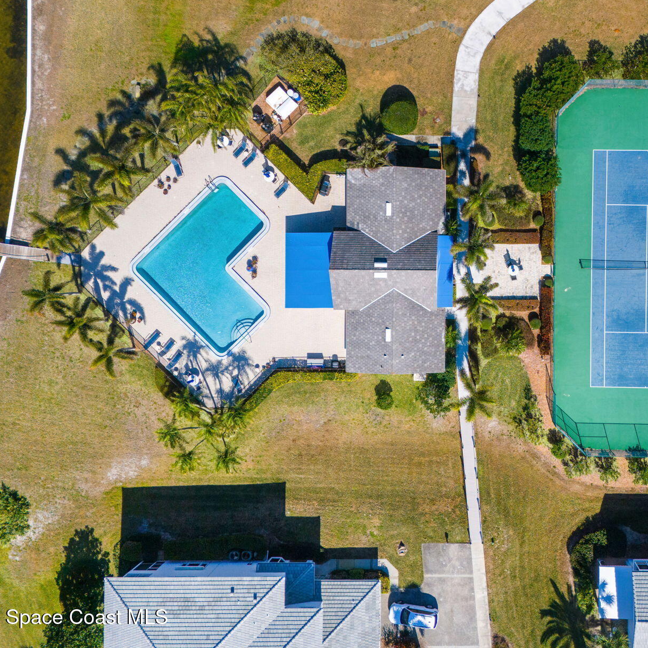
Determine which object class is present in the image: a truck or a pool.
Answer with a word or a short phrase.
pool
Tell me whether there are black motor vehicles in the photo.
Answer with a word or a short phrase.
No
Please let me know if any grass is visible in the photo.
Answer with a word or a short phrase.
Yes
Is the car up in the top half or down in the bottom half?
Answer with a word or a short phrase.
bottom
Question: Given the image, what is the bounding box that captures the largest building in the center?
[285,167,453,375]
